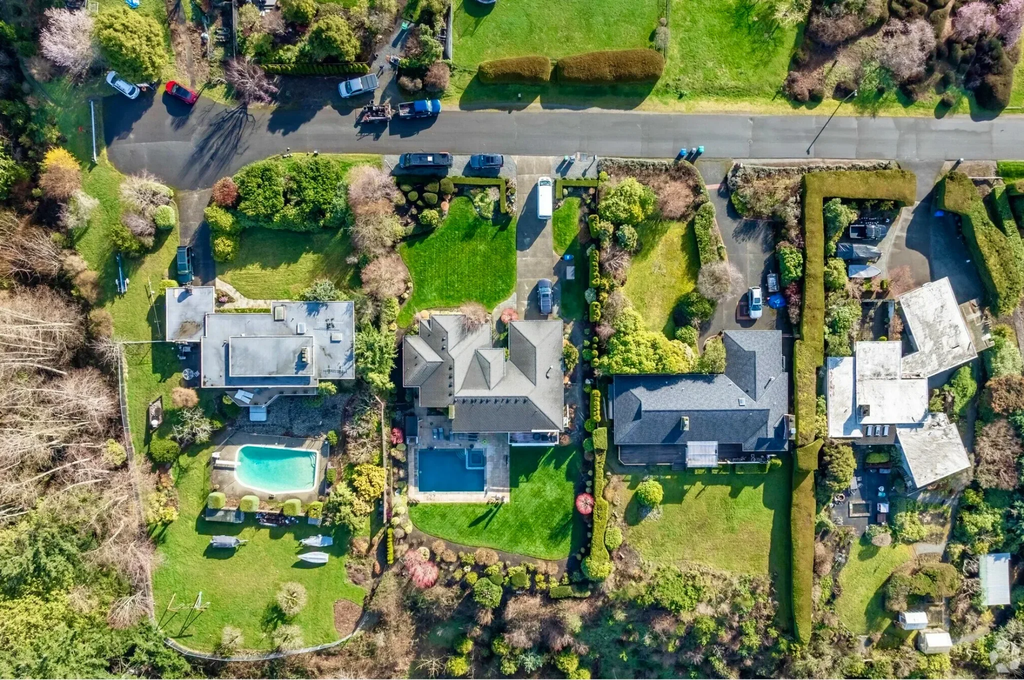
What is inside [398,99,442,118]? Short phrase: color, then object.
blue vehicle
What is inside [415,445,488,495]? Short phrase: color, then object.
blue swimming pool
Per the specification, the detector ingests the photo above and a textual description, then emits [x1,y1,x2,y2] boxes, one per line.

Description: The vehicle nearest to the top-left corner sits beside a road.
[104,69,145,102]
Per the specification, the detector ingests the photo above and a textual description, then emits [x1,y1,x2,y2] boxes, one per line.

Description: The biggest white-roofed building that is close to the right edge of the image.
[823,277,977,488]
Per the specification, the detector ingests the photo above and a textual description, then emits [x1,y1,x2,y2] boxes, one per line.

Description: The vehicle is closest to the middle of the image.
[536,277,554,317]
